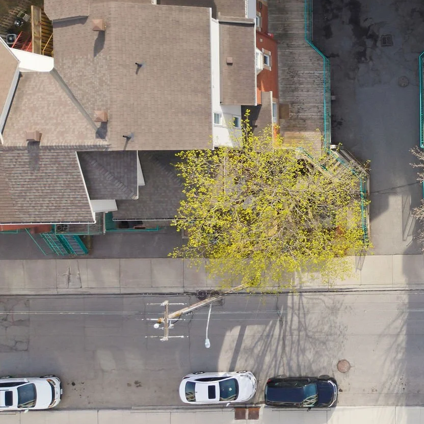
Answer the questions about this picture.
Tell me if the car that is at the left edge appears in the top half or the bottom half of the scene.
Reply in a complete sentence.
It is in the bottom half that the car that is at the left edge appears.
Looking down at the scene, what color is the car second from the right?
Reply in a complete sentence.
In this view, the car second from the right is white.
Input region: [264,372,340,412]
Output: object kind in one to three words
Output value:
car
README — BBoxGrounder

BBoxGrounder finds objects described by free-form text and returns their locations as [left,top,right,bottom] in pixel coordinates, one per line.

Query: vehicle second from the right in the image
[180,370,260,409]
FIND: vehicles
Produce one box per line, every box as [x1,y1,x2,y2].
[0,374,67,414]
[264,372,340,412]
[180,370,260,409]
